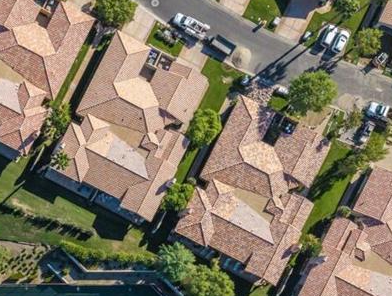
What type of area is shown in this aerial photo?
residential area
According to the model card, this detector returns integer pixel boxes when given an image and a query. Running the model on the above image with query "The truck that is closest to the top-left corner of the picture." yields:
[176,12,214,36]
